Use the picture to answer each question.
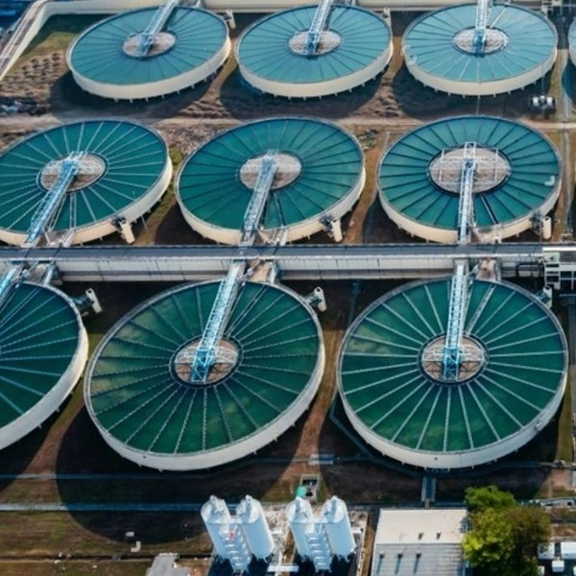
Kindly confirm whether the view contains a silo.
Yes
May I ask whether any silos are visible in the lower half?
Yes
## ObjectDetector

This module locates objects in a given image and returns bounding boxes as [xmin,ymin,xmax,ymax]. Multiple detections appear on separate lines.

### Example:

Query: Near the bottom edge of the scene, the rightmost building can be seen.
[371,509,466,576]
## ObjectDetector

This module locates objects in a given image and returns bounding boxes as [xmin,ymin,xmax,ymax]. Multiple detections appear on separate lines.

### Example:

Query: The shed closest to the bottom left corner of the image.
[145,554,191,576]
